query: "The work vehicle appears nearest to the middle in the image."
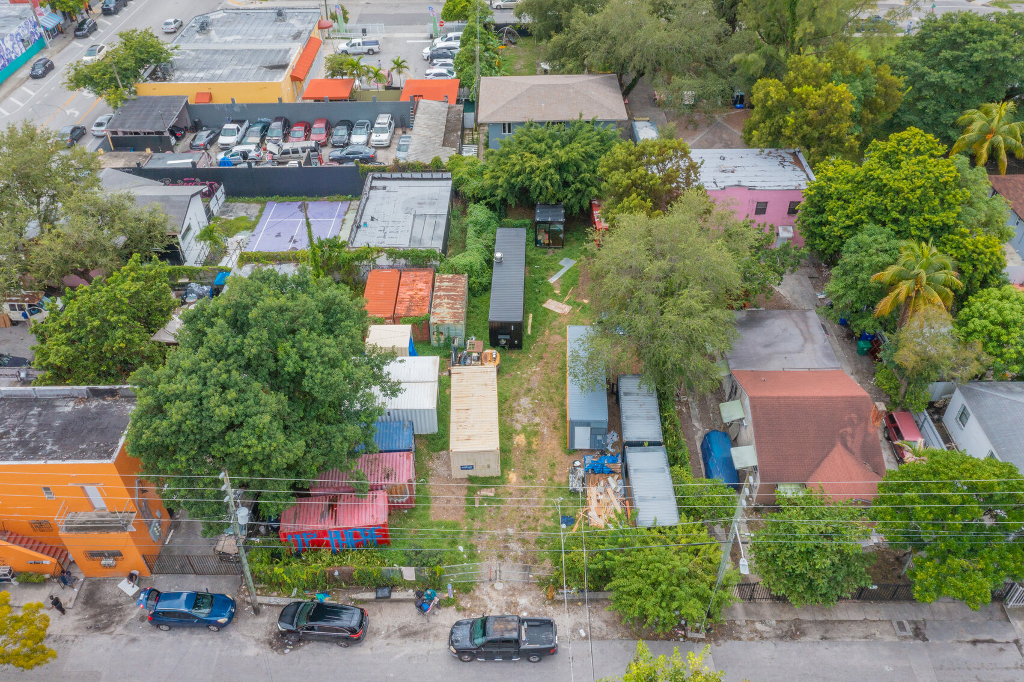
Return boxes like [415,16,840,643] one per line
[436,332,498,378]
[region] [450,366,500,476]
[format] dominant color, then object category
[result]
white shipping container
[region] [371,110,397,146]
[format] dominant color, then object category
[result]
white car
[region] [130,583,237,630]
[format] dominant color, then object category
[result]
blue car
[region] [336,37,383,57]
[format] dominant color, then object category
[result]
white vehicle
